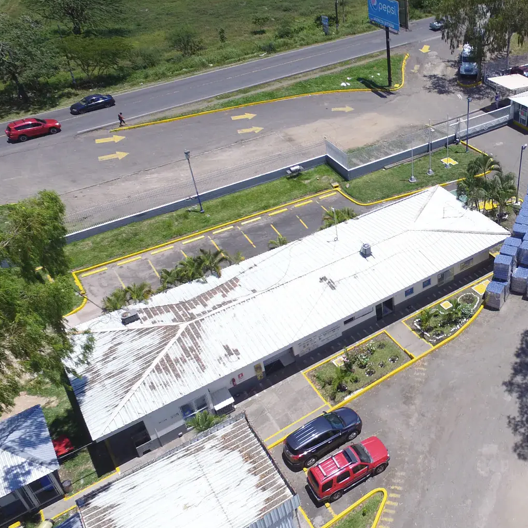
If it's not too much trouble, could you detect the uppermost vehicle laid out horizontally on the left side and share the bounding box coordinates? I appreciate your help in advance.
[64,92,117,116]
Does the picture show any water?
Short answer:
No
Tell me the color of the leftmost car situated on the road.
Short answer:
red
